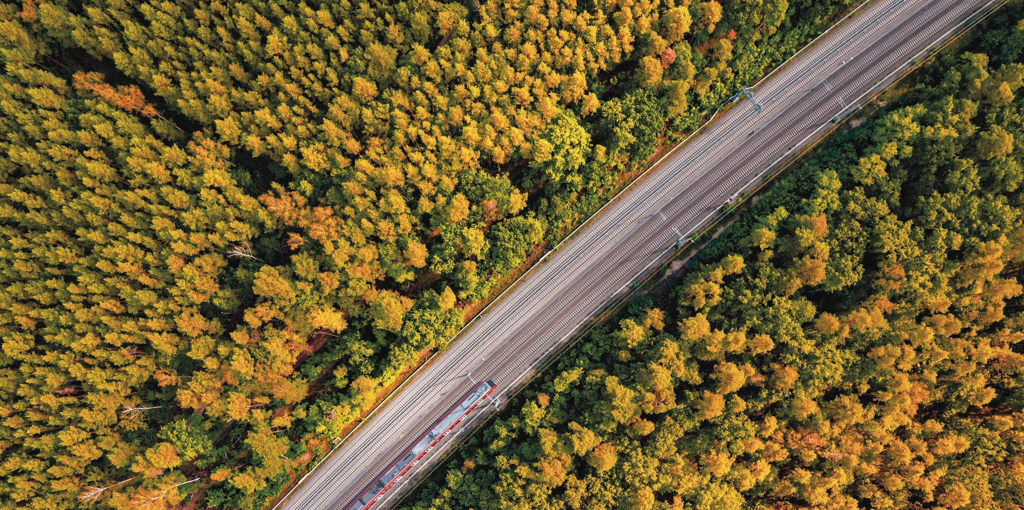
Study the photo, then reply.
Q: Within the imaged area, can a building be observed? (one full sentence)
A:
No, there isn't any building down there.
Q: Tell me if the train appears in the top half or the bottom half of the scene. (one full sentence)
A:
It is in the bottom half that the train appears.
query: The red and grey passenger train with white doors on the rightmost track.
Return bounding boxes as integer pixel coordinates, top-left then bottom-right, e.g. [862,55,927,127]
[350,379,498,510]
